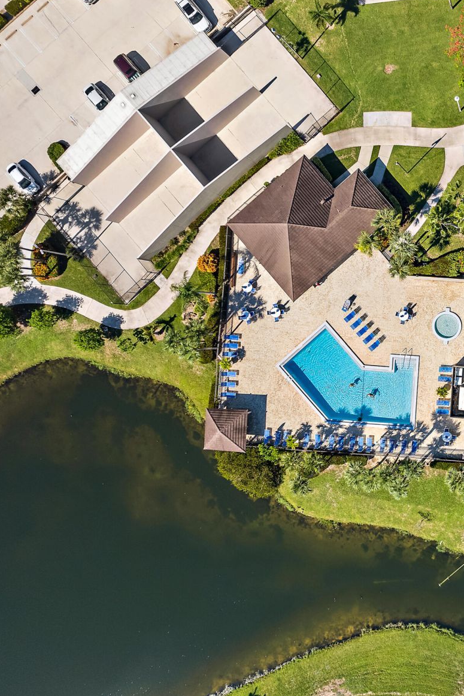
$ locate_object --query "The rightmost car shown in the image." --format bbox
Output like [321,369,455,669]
[173,0,213,34]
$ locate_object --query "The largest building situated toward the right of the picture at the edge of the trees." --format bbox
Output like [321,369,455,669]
[227,155,400,301]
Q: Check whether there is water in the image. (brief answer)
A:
Yes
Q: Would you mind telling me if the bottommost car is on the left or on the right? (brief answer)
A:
left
